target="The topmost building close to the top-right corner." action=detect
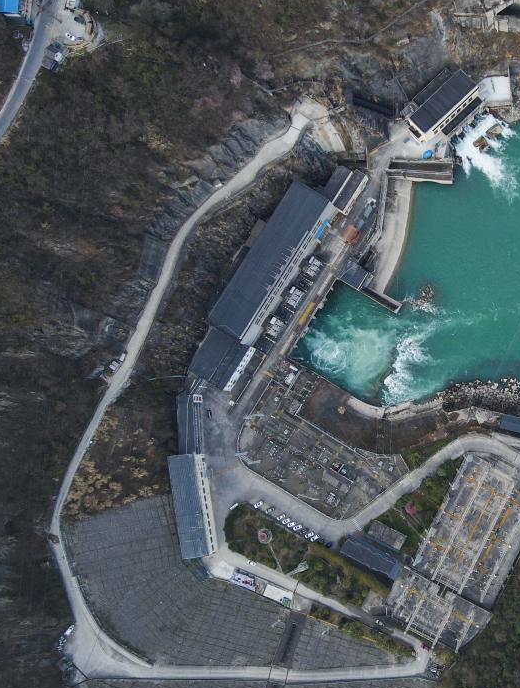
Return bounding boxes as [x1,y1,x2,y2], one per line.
[402,70,481,139]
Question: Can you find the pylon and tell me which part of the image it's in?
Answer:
bottom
